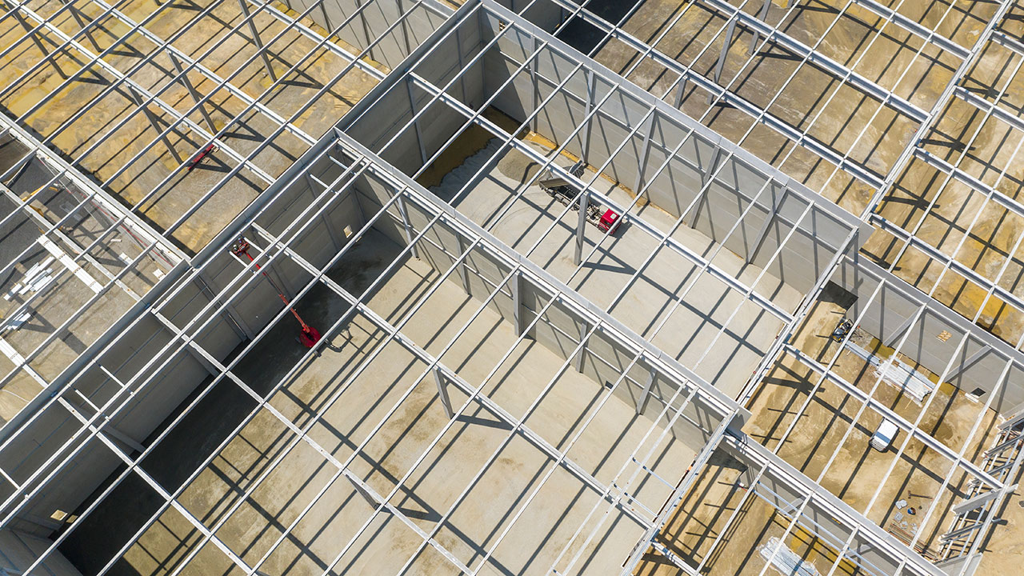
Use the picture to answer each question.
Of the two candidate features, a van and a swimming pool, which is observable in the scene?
van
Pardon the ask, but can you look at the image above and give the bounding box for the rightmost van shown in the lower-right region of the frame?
[869,423,899,454]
